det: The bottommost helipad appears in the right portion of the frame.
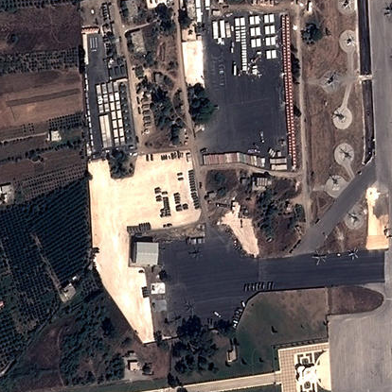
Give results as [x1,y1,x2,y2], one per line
[345,207,363,228]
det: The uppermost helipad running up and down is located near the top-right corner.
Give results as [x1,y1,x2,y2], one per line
[340,32,356,74]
